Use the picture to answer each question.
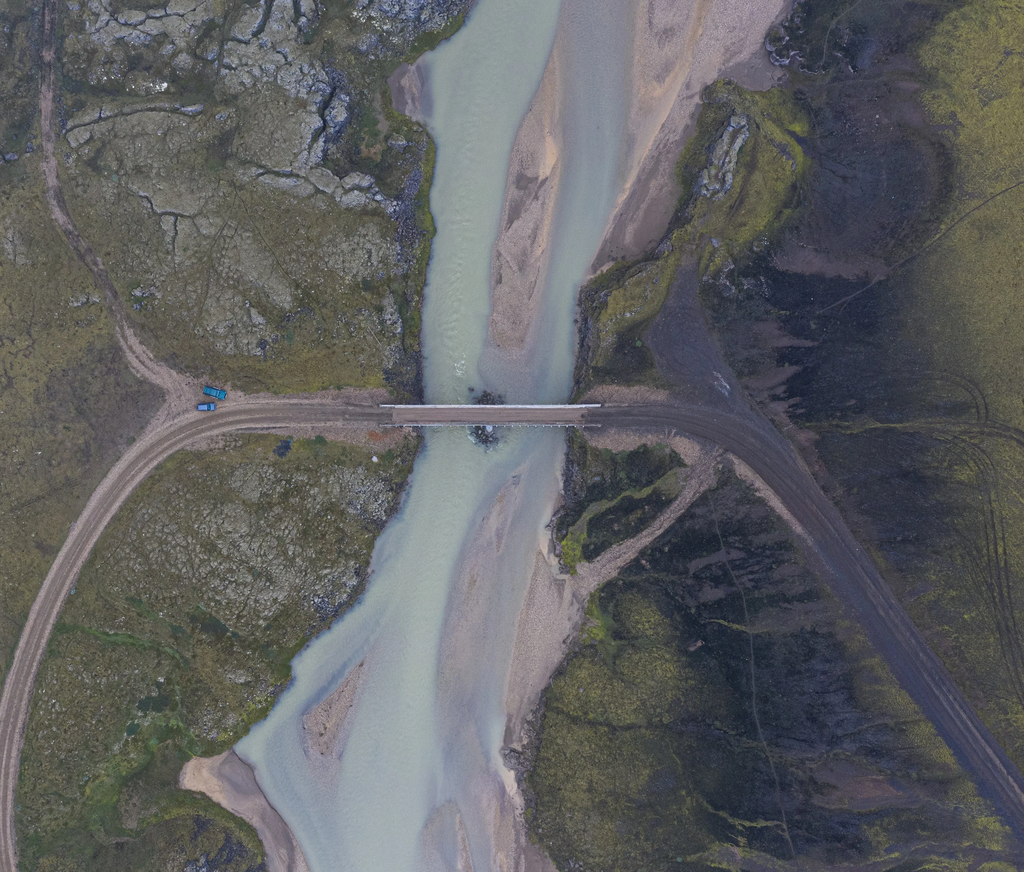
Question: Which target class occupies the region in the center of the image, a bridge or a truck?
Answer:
bridge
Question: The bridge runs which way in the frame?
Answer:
from side to side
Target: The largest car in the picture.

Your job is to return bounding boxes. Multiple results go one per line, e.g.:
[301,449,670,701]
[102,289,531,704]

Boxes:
[201,386,228,400]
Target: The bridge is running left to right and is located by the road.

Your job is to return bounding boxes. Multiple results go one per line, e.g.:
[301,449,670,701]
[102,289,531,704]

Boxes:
[378,403,602,436]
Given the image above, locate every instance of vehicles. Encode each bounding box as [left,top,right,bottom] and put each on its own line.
[196,403,217,412]
[201,386,228,400]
